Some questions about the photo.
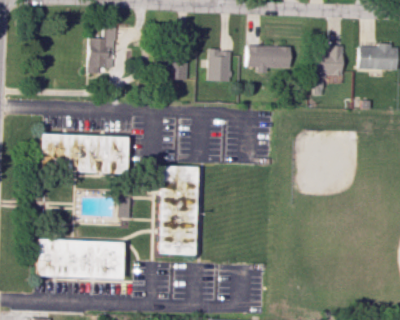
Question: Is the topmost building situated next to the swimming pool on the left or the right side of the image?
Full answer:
The topmost building situated next to the swimming pool appears in the left half of the scene.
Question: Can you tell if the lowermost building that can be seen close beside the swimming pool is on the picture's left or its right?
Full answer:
You can find the lowermost building that can be seen close beside the swimming pool on the left side of the picture.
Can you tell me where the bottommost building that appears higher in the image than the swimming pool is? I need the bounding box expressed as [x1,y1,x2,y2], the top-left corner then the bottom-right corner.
[40,134,130,174]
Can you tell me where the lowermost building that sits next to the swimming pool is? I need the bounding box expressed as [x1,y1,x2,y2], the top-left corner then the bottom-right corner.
[36,238,126,280]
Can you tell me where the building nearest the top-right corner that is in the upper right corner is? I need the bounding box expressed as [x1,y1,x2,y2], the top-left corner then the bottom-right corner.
[358,44,400,70]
